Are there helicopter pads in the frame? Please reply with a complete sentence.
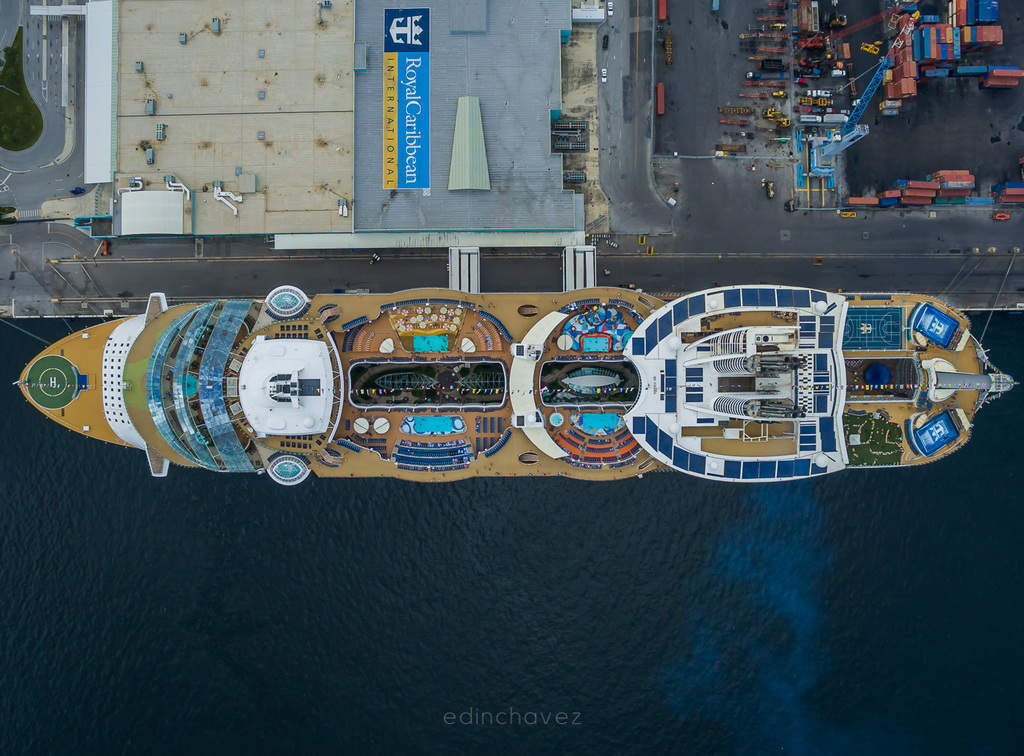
Yes, a helicopter pad appears in the view.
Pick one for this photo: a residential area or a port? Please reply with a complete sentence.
This image shows a port.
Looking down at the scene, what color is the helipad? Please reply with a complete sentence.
The color of the helipad is green.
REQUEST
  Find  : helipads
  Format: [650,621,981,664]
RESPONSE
[26,355,79,409]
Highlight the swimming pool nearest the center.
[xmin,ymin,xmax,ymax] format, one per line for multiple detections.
[549,412,563,426]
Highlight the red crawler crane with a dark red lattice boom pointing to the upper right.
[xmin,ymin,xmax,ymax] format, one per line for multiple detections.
[799,1,900,50]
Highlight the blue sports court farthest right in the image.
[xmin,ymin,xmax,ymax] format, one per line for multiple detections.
[841,305,918,358]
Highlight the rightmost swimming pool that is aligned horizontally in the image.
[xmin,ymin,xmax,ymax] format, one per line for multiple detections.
[570,411,628,435]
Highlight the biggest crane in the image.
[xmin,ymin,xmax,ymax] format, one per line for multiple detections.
[796,10,921,189]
